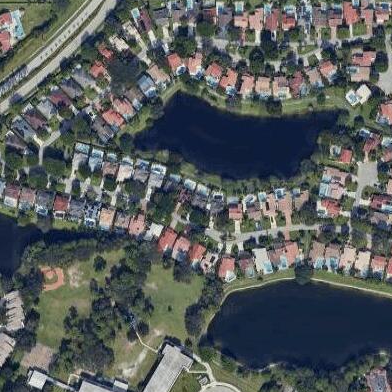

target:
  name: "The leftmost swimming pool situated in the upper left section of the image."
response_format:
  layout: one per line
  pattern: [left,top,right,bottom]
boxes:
[11,9,26,38]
